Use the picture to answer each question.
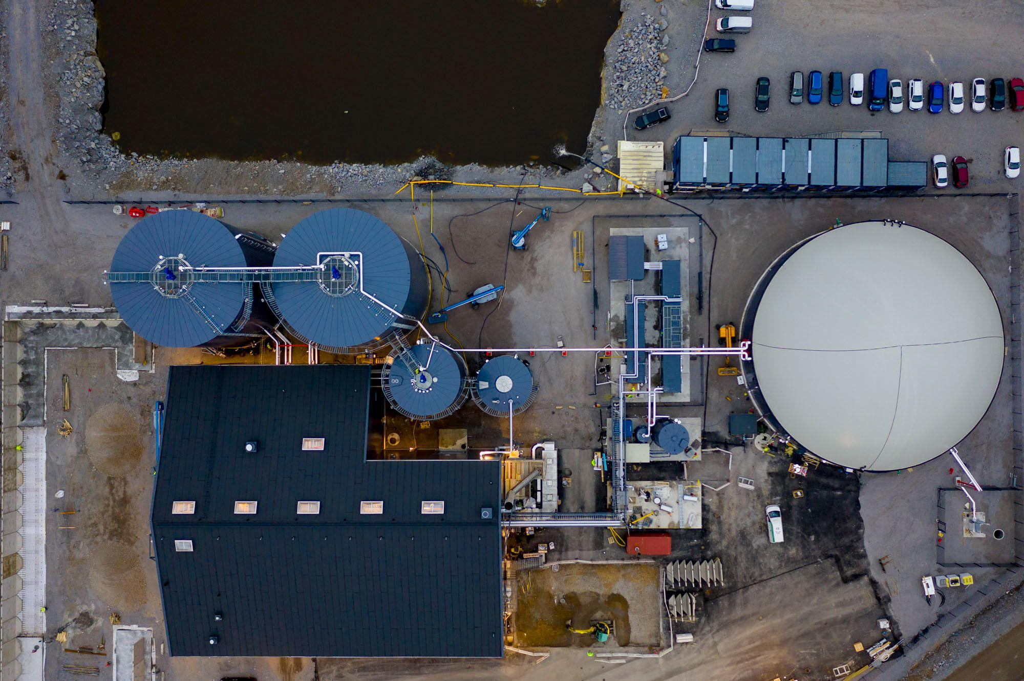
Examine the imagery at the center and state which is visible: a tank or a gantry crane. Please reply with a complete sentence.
The feature located at the center is a tank.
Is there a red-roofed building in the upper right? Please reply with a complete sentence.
No, I see no red-roofed building in the upper right.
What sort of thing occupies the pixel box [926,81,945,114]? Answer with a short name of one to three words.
car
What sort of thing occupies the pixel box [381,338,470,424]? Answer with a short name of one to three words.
storage tank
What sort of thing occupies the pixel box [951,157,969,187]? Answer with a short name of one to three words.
car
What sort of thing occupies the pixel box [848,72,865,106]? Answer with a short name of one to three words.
vehicle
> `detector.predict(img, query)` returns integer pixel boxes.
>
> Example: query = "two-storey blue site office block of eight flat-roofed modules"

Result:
[671,136,887,194]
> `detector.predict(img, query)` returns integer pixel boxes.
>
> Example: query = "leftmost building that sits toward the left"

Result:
[149,364,503,659]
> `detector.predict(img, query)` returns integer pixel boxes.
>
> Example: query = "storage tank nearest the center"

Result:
[469,352,540,420]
